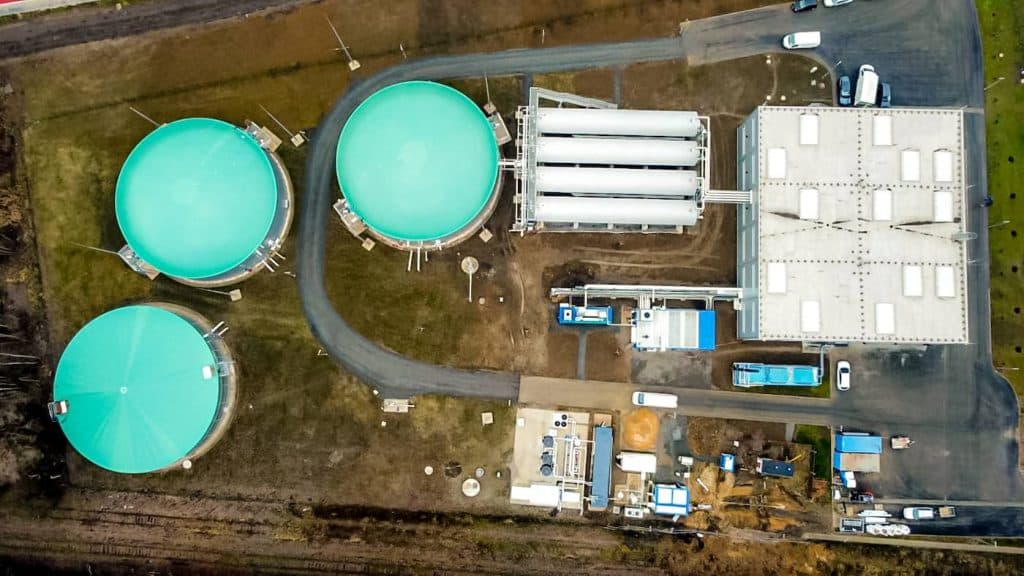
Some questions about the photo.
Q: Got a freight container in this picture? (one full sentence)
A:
Yes, the frame does contain a freight container.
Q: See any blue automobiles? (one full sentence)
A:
Yes, a blue automobile is visible in the scene.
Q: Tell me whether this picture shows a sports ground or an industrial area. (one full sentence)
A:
This looks like an industrial area.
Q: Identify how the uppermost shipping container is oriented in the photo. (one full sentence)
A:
In this picture, the uppermost shipping container is oriented horizontally.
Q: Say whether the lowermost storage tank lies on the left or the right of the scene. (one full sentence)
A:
The lowermost storage tank is on the left side of the image.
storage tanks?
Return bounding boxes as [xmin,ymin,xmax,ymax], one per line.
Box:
[330,81,514,273]
[538,110,699,139]
[537,197,699,230]
[538,139,699,168]
[114,116,294,287]
[537,168,699,197]
[42,301,241,473]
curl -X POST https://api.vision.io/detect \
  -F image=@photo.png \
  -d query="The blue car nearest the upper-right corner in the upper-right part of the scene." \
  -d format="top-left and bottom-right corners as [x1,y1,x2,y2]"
[876,82,892,107]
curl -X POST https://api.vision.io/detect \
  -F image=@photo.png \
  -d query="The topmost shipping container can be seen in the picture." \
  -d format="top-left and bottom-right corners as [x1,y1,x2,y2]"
[558,302,613,327]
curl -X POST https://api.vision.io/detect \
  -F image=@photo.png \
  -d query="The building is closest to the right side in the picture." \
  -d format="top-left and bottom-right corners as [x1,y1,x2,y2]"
[737,107,980,343]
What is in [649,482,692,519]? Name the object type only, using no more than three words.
building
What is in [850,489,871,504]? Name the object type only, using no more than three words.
work vehicle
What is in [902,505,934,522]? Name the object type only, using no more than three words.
car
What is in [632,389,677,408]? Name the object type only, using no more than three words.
vehicle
